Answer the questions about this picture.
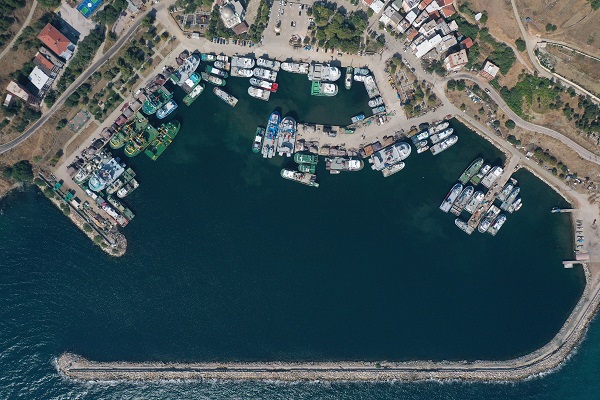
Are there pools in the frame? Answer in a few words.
No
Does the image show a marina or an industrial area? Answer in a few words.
marina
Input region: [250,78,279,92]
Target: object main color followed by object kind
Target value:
white boat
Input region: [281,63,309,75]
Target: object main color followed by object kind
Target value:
white boat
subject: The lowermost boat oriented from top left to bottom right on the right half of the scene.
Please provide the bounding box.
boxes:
[455,218,474,235]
